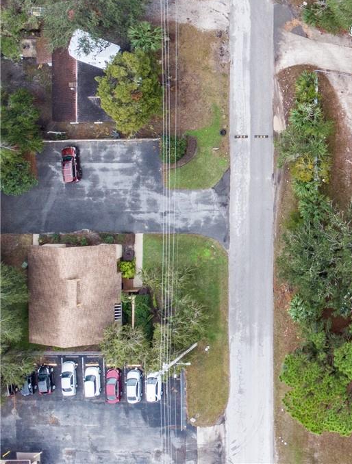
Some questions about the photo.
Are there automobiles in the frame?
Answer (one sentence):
Yes, the photo shows an automobile.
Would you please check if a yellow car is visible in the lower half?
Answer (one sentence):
No, looking in the lower half, there is no yellow car.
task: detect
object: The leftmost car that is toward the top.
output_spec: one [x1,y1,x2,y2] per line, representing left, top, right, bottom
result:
[60,146,82,184]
